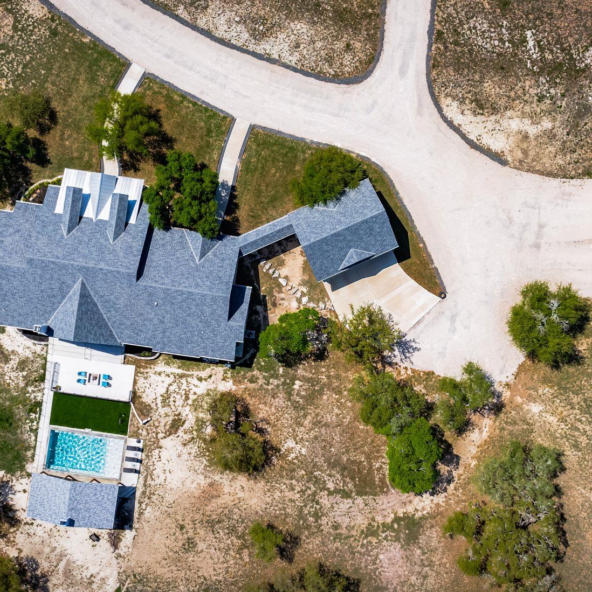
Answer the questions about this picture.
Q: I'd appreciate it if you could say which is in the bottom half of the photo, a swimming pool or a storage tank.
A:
swimming pool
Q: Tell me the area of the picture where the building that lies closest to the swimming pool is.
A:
bottom left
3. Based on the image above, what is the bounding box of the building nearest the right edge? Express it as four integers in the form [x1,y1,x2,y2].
[288,180,399,283]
